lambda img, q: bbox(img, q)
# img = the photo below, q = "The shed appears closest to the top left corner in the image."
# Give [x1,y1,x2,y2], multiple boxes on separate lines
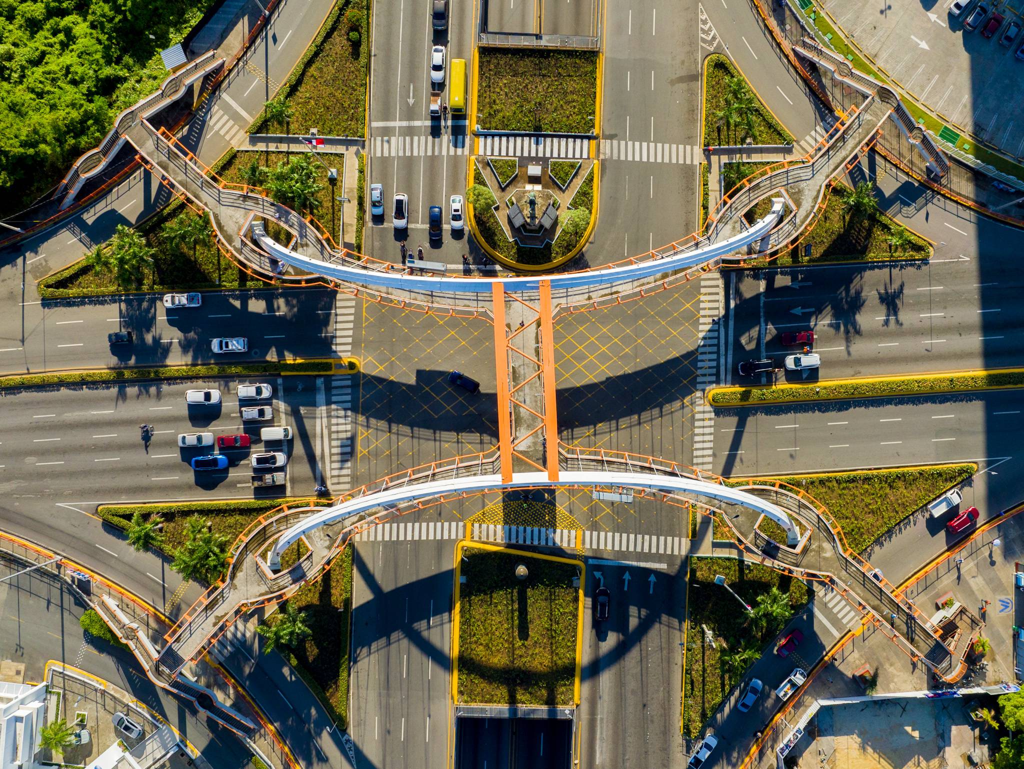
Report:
[160,44,192,74]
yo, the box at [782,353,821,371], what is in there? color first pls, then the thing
white car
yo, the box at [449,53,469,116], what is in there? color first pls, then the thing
yellow bus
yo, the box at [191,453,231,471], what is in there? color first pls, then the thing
blue car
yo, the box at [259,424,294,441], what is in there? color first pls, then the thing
white vehicle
